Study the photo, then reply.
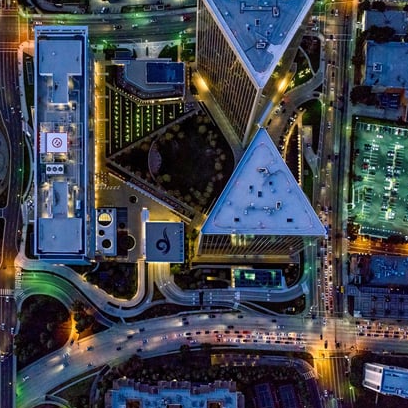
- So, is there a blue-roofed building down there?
Yes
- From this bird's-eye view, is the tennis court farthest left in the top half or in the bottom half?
bottom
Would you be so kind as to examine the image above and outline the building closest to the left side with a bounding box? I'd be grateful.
[34,26,94,265]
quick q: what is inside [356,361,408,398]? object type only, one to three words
building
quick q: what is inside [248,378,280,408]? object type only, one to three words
tennis court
